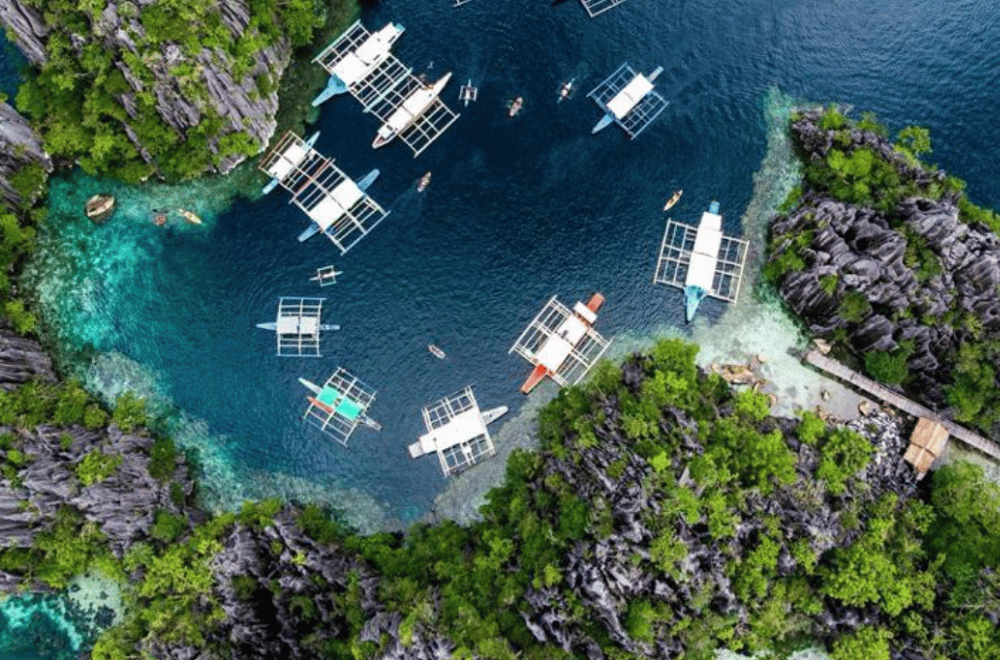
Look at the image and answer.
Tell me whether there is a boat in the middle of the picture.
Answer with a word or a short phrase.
Yes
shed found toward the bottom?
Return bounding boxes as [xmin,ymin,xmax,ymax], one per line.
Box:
[900,415,949,467]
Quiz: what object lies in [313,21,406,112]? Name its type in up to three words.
boat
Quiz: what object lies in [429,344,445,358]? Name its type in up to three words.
boat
